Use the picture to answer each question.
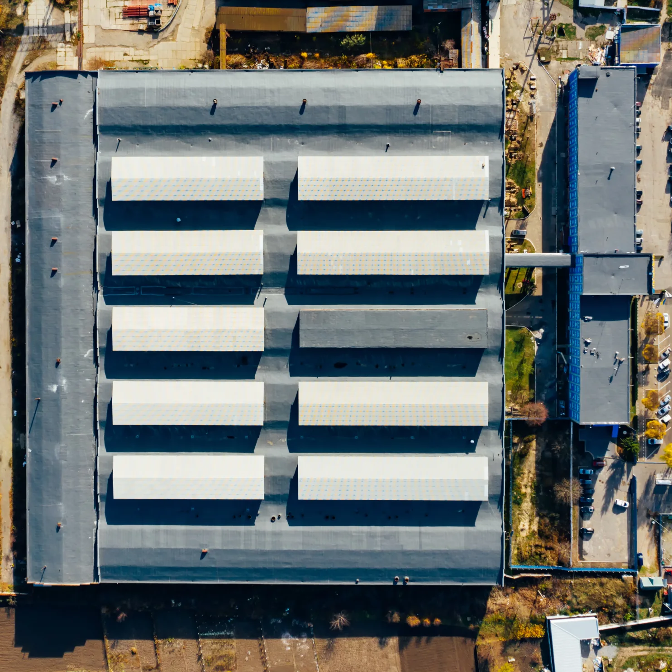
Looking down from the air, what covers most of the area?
buildings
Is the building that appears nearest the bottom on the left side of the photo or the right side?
right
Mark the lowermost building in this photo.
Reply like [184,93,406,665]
[546,613,600,672]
